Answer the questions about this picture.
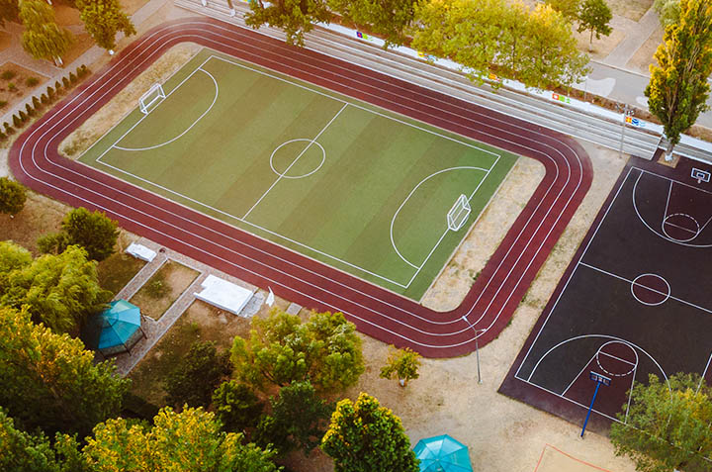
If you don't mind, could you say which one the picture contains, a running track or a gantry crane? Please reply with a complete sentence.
Looking from above, you can make out a running track.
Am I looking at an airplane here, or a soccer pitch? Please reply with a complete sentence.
The one in the frame is a soccer pitch.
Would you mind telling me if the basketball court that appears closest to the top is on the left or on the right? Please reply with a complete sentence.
You can find the basketball court that appears closest to the top on the right side of the picture.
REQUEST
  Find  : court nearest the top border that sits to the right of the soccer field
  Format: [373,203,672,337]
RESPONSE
[516,167,712,442]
